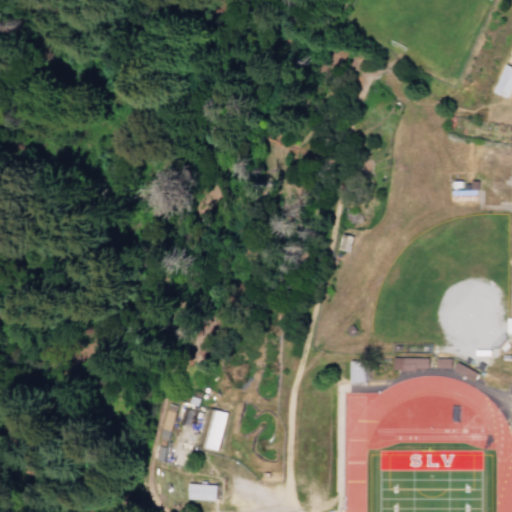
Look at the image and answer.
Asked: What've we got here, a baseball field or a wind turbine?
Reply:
baseball field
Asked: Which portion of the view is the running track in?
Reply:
bottom right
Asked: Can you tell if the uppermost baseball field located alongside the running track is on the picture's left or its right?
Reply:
right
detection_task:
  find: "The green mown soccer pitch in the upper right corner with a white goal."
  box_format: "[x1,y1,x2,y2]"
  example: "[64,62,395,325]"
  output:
[354,0,497,82]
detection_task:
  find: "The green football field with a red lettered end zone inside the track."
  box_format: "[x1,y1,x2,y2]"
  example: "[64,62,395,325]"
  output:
[369,442,496,512]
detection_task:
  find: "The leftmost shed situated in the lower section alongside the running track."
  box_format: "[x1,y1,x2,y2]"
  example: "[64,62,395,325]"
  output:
[351,361,367,384]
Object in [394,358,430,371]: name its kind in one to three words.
shed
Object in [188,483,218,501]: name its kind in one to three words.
building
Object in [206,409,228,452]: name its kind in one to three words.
building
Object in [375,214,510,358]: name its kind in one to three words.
baseball field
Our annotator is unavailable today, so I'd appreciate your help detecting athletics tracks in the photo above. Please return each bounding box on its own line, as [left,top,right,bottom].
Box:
[346,376,512,512]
